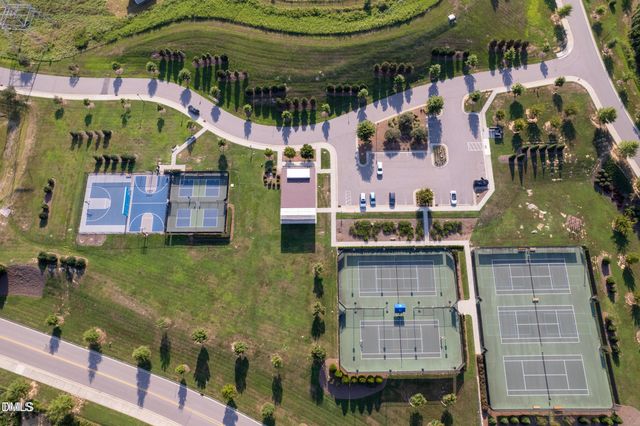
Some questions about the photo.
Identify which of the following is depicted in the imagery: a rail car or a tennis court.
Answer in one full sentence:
It is a tennis court that can be seen here.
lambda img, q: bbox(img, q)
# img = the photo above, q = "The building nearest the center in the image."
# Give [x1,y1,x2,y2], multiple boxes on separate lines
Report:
[280,166,316,224]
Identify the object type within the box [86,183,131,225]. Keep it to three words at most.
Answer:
basketball court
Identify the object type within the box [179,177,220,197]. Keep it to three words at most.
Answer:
sports court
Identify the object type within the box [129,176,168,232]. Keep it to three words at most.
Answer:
basketball court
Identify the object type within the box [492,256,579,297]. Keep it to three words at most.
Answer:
tennis court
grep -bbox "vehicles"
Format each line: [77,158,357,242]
[389,192,396,207]
[377,163,384,177]
[360,192,367,207]
[185,104,198,114]
[450,191,458,205]
[369,192,376,206]
[472,180,489,188]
